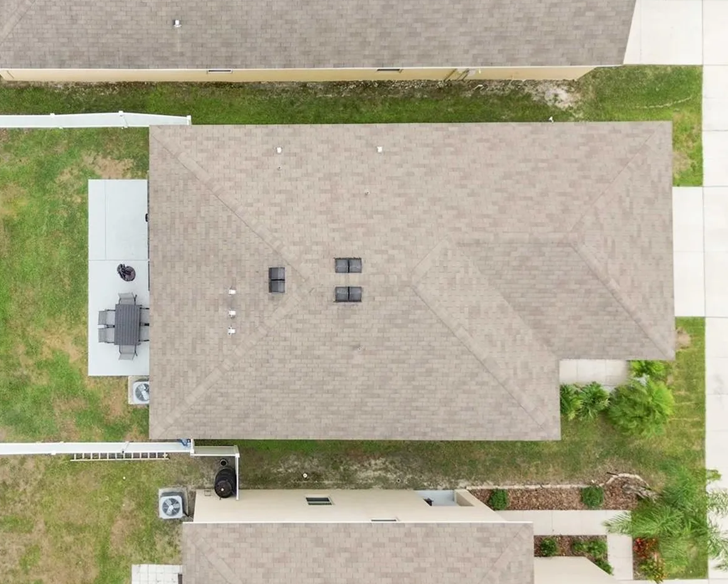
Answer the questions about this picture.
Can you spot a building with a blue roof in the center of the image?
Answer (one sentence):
No, looking in the center of the image, there is no building with a blue roof.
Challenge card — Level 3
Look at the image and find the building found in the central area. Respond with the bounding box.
[147,121,675,440]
